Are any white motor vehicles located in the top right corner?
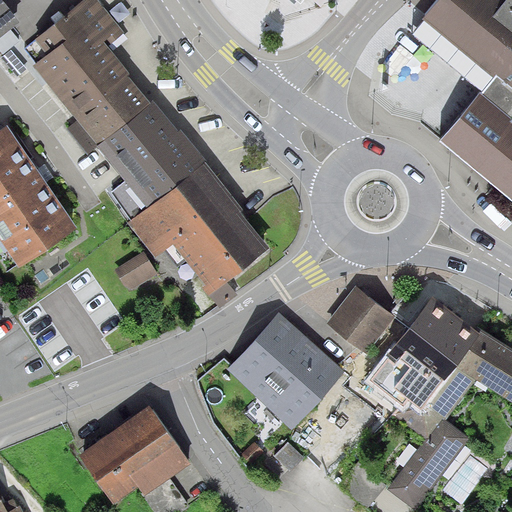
Yes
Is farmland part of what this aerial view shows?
No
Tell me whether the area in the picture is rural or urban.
urban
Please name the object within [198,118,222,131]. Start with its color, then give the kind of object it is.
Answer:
white vehicle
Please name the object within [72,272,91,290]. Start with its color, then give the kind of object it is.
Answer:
white car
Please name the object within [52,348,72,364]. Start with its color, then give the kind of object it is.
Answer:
white car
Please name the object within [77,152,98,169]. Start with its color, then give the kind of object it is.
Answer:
white vehicle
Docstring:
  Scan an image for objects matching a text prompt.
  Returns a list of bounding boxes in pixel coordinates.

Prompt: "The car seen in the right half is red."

[364,138,384,154]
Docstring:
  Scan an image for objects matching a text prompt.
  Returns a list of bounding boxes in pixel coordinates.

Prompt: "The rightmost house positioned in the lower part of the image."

[458,332,512,402]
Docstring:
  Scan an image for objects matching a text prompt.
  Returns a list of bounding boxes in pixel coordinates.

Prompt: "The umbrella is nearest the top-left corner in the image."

[110,2,130,22]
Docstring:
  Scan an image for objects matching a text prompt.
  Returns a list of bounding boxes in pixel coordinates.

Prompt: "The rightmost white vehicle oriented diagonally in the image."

[476,196,512,228]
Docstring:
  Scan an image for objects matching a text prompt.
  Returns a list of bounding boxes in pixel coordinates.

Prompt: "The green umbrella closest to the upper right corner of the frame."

[414,46,434,62]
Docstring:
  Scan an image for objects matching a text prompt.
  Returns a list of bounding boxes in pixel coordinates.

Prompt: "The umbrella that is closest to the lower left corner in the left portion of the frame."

[178,264,194,280]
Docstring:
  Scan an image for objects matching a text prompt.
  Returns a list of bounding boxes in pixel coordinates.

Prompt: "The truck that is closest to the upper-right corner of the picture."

[394,28,419,50]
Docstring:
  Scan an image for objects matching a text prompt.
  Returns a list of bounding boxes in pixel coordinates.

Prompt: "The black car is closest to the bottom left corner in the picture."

[79,421,100,437]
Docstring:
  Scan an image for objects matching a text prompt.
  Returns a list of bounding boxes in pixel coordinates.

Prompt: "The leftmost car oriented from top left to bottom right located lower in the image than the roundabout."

[324,338,344,356]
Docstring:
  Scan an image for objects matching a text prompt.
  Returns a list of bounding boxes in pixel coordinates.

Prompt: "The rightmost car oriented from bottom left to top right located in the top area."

[245,192,264,210]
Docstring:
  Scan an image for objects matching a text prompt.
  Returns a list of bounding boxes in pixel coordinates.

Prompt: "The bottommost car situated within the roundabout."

[404,165,424,182]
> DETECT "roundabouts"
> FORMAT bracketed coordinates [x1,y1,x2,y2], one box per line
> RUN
[312,136,442,266]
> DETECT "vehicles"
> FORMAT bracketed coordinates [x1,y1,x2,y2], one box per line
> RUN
[90,163,110,179]
[364,138,384,154]
[178,38,194,56]
[404,165,424,182]
[234,48,258,72]
[157,78,182,89]
[394,28,419,50]
[240,162,260,172]
[52,348,72,364]
[79,421,100,437]
[86,294,106,310]
[176,97,199,110]
[30,316,52,334]
[0,321,15,338]
[324,338,344,356]
[36,328,56,344]
[100,317,118,334]
[22,308,42,324]
[472,230,494,248]
[245,192,264,210]
[244,113,262,132]
[198,118,222,131]
[447,259,467,271]
[77,152,98,169]
[476,196,512,228]
[326,402,341,424]
[24,359,44,374]
[72,272,91,290]
[284,148,302,167]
